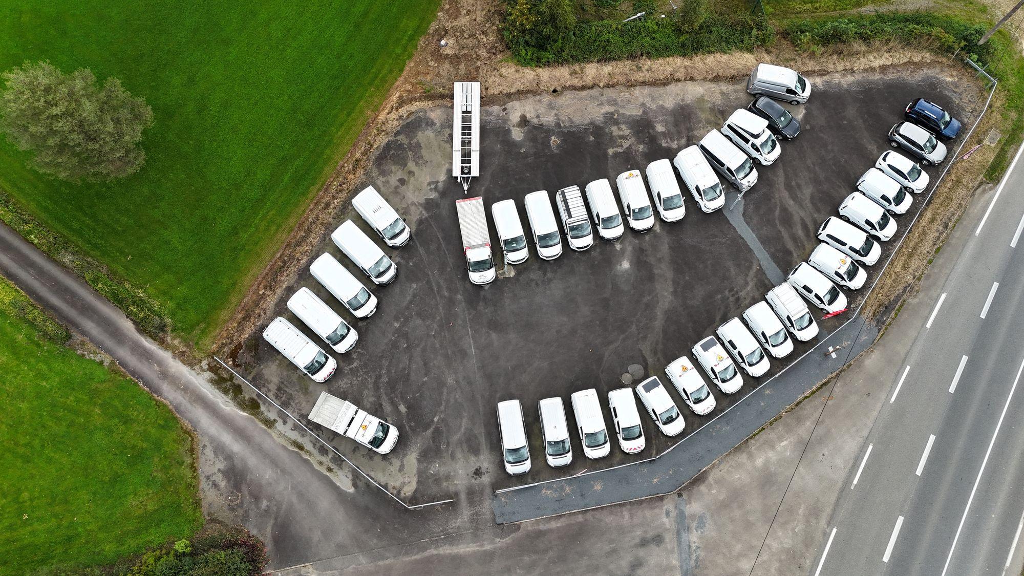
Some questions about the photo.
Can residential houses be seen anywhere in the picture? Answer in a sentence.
No, there's no residential house here.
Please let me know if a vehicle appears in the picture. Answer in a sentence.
Yes, a vehicle is visible in the scene.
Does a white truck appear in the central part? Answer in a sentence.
Yes, the scene does show a white truck in the central part.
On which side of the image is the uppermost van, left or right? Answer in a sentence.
The uppermost van sits on the right side.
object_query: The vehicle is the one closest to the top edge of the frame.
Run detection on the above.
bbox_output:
[748,63,812,106]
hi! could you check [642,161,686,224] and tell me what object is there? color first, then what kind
white van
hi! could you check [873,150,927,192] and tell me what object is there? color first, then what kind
white car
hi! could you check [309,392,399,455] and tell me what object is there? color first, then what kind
white truck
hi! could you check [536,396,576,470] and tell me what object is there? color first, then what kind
white vehicle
